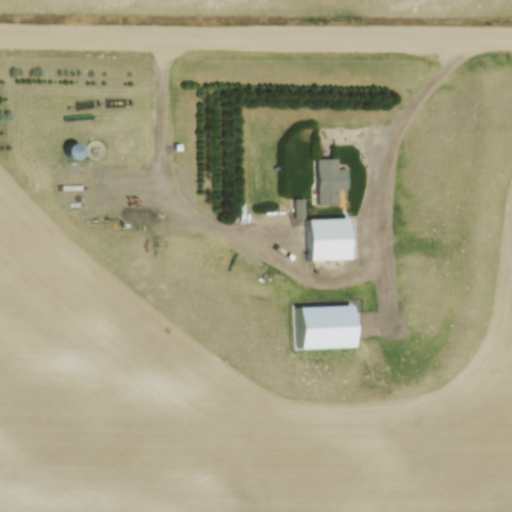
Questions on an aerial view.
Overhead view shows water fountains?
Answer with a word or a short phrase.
No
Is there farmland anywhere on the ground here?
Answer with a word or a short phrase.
Yes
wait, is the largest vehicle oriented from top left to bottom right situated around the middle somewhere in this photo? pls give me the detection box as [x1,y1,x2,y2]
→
[273,244,290,256]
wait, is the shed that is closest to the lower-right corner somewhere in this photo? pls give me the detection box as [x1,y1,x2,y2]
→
[296,304,361,350]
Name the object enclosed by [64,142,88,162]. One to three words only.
silo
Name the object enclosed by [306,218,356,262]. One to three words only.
shed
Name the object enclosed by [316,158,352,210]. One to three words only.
house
